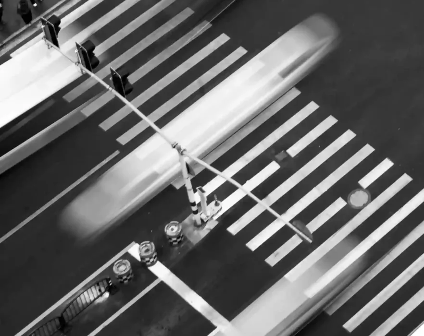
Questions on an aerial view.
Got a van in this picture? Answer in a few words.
Yes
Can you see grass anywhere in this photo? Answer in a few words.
No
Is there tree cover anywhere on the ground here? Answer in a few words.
No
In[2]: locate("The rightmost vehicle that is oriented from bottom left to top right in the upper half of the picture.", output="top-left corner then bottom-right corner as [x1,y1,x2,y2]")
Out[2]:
[111,46,289,200]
